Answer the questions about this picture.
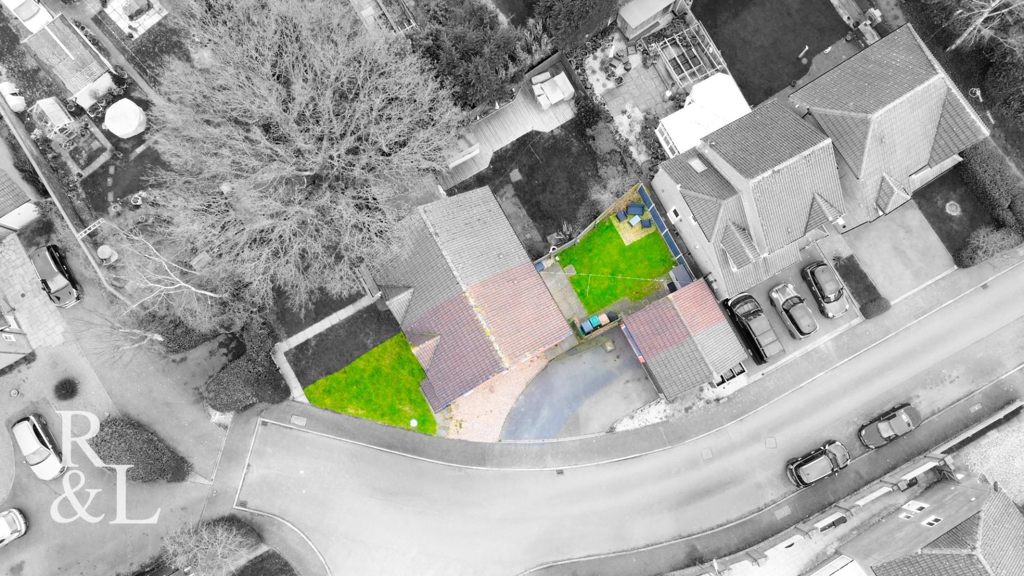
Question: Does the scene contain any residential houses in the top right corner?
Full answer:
Yes, there is a residential house in the top right corner.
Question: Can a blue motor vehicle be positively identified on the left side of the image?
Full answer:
No, on the left side of the image there is no blue motor vehicle.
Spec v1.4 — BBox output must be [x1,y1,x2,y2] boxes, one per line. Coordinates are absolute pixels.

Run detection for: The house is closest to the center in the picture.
[354,186,574,414]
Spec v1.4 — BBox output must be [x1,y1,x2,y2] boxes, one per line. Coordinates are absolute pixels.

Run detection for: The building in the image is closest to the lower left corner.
[0,291,32,368]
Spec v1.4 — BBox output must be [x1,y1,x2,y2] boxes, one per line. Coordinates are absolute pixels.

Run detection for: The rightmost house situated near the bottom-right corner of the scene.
[837,462,1024,576]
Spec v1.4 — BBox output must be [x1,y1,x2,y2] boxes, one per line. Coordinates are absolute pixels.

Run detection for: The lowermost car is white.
[0,507,28,543]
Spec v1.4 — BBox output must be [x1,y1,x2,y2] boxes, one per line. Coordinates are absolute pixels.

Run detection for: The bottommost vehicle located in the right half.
[786,442,853,492]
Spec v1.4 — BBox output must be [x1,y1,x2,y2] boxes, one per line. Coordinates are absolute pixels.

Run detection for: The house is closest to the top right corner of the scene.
[786,21,994,223]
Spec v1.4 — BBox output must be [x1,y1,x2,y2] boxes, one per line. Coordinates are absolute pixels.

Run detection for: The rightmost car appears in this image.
[858,404,931,453]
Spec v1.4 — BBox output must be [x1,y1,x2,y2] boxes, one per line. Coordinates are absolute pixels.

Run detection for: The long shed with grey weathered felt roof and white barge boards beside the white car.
[21,12,123,103]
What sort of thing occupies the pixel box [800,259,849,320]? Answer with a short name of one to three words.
car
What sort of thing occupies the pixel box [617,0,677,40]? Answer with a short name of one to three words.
shed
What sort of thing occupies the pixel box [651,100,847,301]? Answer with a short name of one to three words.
house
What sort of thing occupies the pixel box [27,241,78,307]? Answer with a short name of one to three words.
car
